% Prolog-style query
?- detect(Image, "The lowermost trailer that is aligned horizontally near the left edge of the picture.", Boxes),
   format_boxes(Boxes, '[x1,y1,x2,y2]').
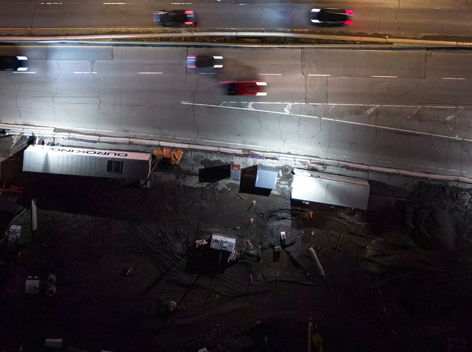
[24,143,150,180]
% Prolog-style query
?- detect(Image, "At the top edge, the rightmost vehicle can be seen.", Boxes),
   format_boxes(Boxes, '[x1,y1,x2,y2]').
[313,8,352,26]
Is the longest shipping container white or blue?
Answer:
white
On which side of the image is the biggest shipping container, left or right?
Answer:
right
